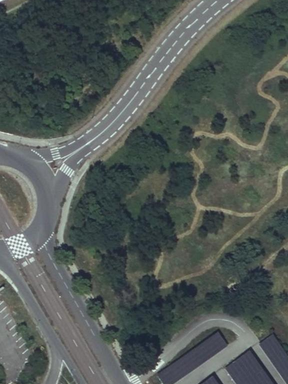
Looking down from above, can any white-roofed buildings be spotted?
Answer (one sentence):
No, no white-roofed building is visible in the view.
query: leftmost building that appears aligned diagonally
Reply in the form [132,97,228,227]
[158,330,228,384]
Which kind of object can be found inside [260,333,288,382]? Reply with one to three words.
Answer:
building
